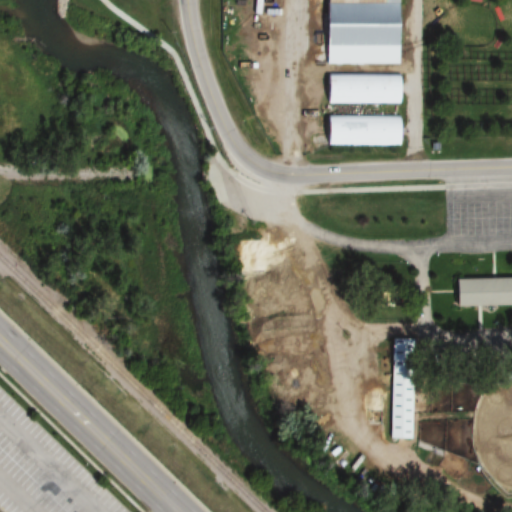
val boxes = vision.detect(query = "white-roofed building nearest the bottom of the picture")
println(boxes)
[392,339,414,440]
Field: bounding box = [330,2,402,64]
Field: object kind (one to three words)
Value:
barn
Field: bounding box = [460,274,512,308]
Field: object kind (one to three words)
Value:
house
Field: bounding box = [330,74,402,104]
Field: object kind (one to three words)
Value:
shed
